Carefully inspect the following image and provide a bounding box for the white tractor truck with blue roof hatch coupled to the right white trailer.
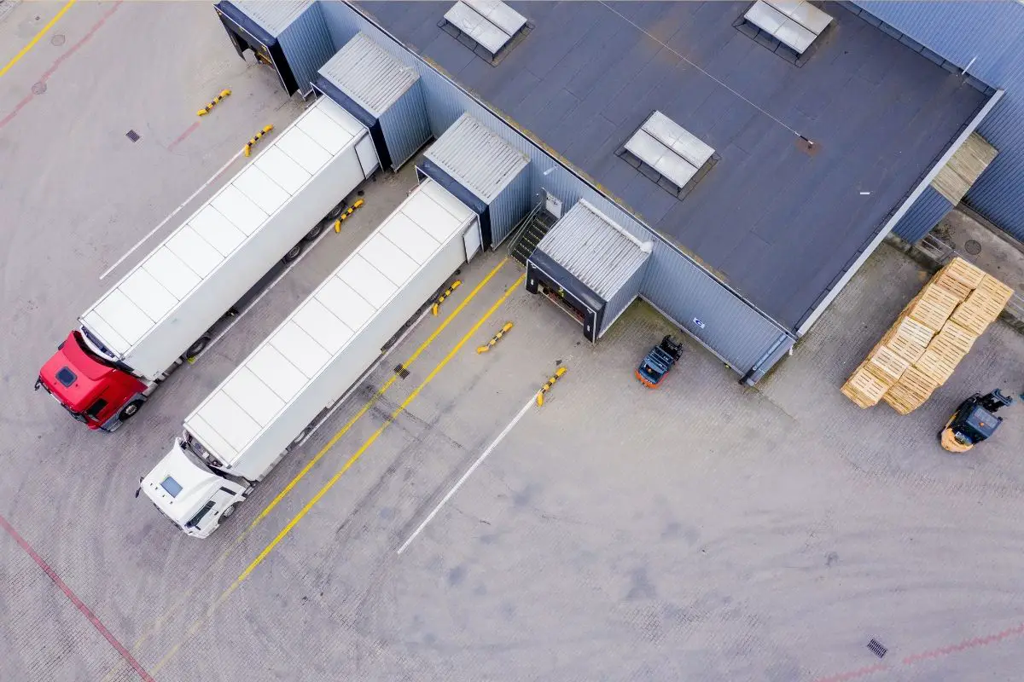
[134,430,307,539]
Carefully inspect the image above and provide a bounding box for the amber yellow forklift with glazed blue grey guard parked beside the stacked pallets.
[935,383,1018,457]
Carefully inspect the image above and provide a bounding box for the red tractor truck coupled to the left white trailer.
[32,328,206,434]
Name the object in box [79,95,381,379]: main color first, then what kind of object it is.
white trailer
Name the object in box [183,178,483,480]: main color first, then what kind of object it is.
white trailer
